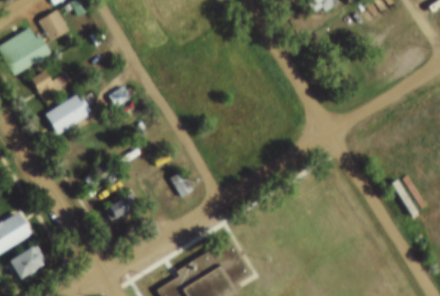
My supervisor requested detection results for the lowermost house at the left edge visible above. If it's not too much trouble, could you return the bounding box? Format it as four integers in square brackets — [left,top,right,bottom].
[10,246,46,279]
